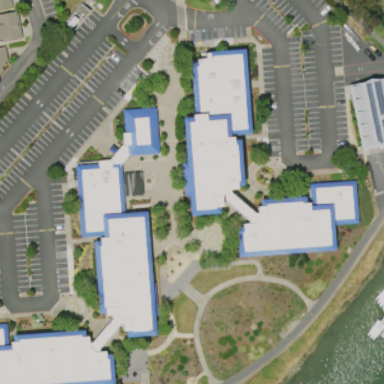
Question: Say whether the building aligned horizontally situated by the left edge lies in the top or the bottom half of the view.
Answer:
bottom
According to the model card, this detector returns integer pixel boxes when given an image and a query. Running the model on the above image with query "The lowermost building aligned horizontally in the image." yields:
[0,330,116,384]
